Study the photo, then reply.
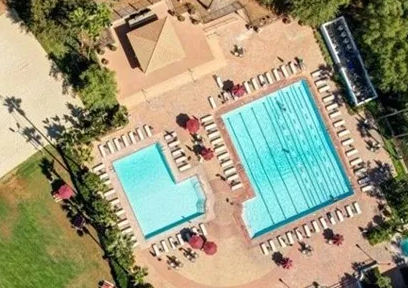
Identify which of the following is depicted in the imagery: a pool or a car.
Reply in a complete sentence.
The image shows a pool.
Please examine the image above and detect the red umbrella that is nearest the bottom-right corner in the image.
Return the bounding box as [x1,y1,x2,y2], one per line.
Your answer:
[333,231,348,246]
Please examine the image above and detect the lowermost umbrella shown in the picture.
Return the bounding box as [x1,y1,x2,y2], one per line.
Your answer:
[281,256,295,270]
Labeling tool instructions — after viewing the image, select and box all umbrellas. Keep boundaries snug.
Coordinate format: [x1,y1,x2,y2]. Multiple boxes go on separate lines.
[55,183,71,199]
[203,240,219,255]
[190,236,205,250]
[281,256,295,270]
[187,117,201,132]
[202,147,215,160]
[333,231,348,246]
[234,82,249,96]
